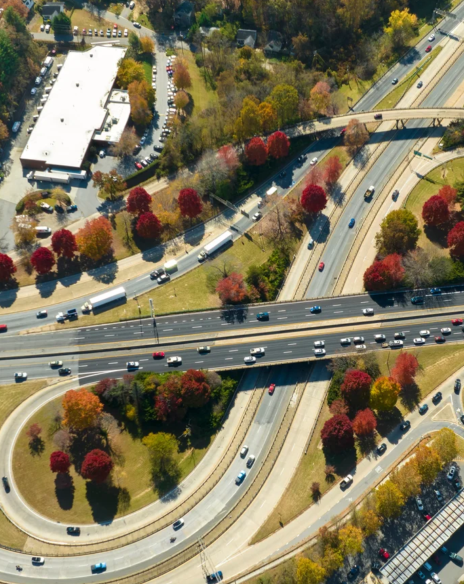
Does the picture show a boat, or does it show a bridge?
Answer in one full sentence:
It is a bridge that can be seen here.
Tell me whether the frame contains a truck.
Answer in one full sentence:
Yes, there is a truck in the image.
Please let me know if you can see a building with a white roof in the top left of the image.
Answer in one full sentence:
Yes, a building with a white roof is visible in the top left of the image.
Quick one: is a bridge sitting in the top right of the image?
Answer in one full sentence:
Yes, there is a bridge in the top right of the image.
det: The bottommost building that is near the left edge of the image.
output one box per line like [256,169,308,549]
[20,46,131,171]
